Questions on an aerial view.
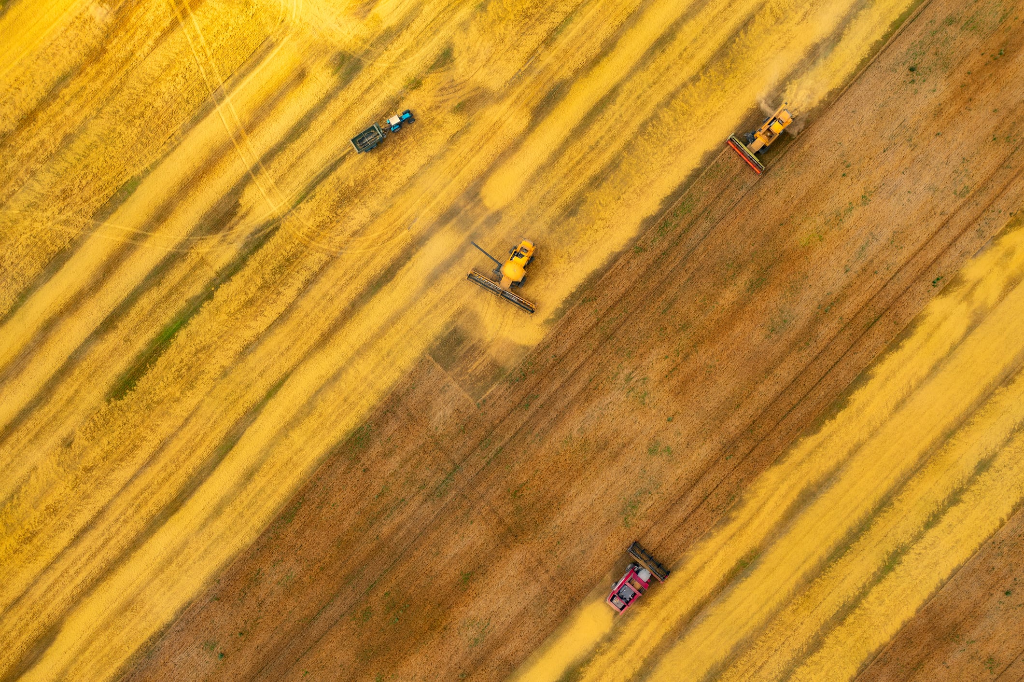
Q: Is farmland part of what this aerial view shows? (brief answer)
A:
Yes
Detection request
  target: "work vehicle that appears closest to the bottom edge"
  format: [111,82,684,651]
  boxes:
[607,542,672,615]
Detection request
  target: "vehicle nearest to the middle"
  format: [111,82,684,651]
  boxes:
[467,237,538,315]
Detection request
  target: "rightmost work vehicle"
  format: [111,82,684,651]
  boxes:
[726,101,793,174]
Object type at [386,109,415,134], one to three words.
work vehicle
